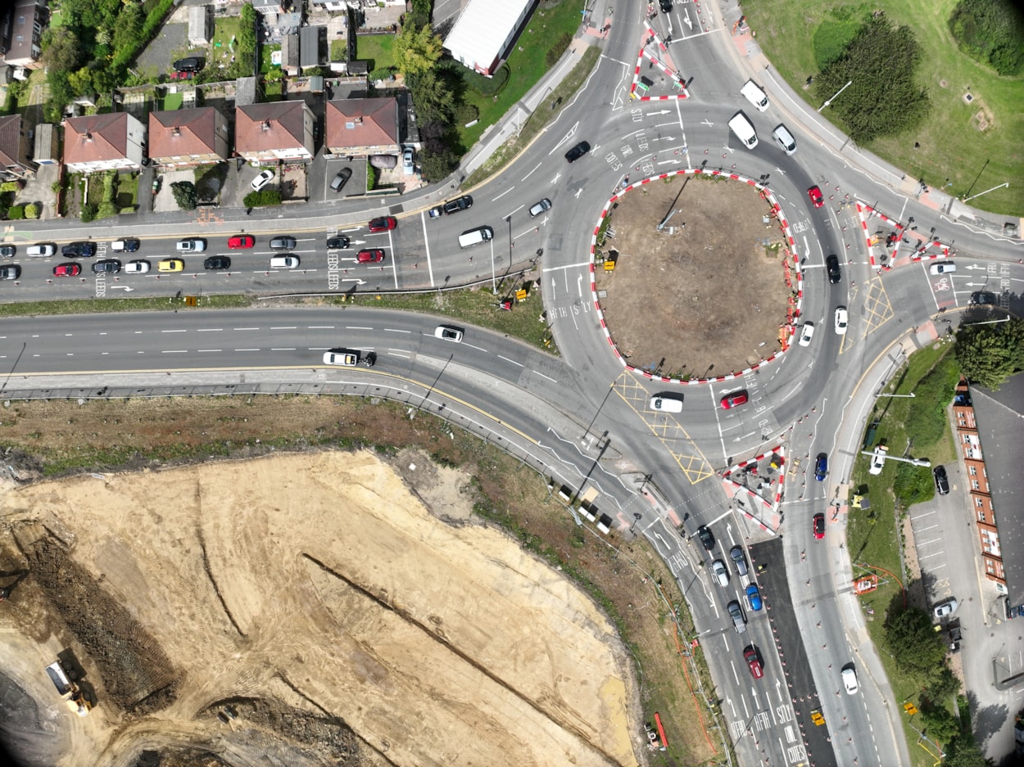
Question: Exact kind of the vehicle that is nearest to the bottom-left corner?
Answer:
truck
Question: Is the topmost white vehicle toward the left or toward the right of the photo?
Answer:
right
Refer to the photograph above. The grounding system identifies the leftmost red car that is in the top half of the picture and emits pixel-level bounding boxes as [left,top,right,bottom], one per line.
[54,263,81,277]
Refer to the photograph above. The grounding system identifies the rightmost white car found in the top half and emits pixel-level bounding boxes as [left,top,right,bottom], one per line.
[928,261,956,275]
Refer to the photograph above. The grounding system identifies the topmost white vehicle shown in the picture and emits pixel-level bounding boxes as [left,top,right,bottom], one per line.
[741,77,768,111]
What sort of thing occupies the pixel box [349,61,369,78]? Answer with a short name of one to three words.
shed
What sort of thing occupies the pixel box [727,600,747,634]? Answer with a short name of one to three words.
vehicle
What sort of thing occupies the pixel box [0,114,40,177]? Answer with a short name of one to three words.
house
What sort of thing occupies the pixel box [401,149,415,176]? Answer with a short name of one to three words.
car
